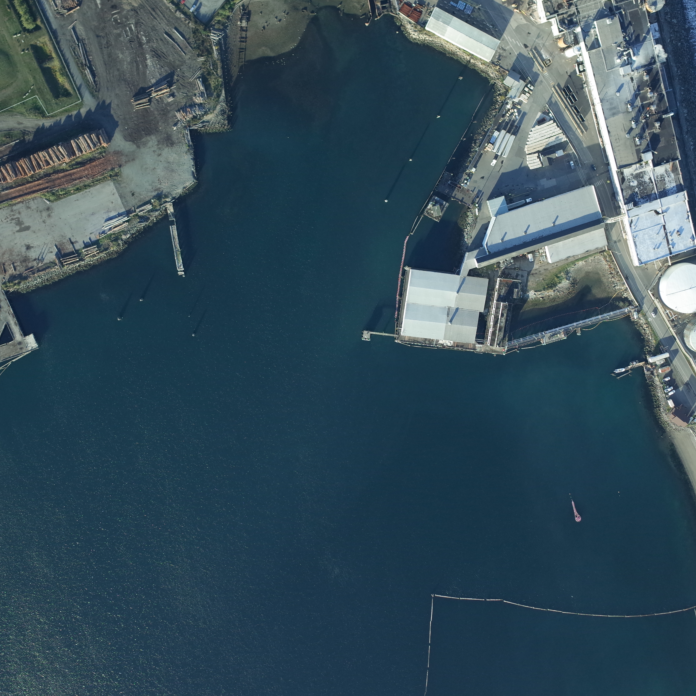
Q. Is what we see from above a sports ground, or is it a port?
port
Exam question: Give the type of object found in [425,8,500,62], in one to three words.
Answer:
shed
